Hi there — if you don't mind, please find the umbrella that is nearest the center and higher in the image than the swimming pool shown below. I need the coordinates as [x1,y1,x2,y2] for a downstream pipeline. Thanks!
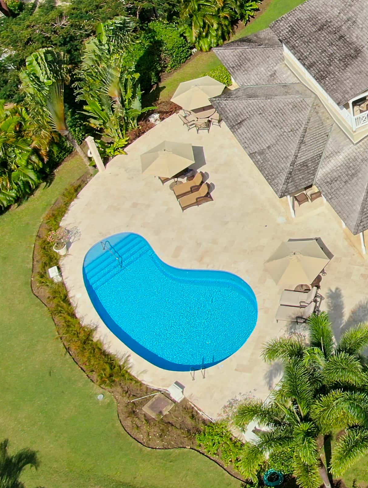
[143,146,201,191]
